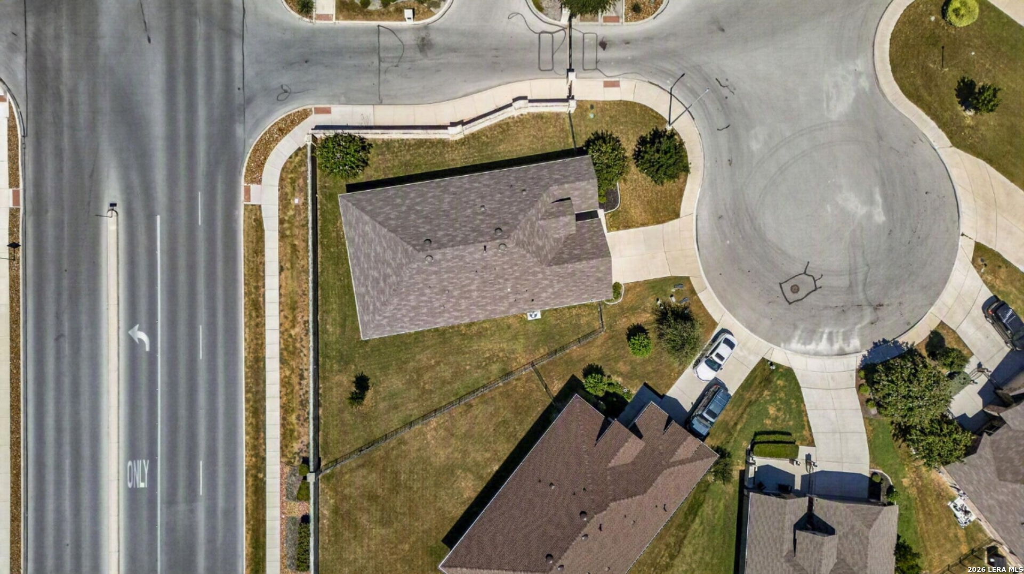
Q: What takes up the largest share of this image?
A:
paved ground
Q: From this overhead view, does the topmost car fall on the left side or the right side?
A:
right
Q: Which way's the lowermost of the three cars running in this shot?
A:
at an angle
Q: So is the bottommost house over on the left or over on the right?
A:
right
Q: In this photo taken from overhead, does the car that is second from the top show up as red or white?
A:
white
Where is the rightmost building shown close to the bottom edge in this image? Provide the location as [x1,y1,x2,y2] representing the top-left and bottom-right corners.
[938,403,1024,574]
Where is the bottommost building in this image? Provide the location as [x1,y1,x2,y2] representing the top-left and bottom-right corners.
[739,489,898,574]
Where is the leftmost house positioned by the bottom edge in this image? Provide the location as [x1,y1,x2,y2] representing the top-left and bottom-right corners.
[436,393,720,574]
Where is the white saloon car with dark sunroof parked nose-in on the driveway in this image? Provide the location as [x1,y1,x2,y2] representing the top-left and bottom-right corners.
[695,328,741,381]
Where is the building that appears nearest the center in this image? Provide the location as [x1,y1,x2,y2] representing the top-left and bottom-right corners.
[339,153,613,340]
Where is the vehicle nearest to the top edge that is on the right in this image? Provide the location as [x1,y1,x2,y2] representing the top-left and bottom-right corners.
[986,299,1024,354]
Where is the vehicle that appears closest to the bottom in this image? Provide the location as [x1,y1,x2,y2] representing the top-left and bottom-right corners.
[687,385,735,439]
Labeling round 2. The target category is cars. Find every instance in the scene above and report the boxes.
[986,299,1024,354]
[695,328,741,381]
[687,385,735,439]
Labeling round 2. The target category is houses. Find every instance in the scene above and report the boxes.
[339,153,613,340]
[938,403,1024,574]
[739,489,898,574]
[436,393,720,574]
